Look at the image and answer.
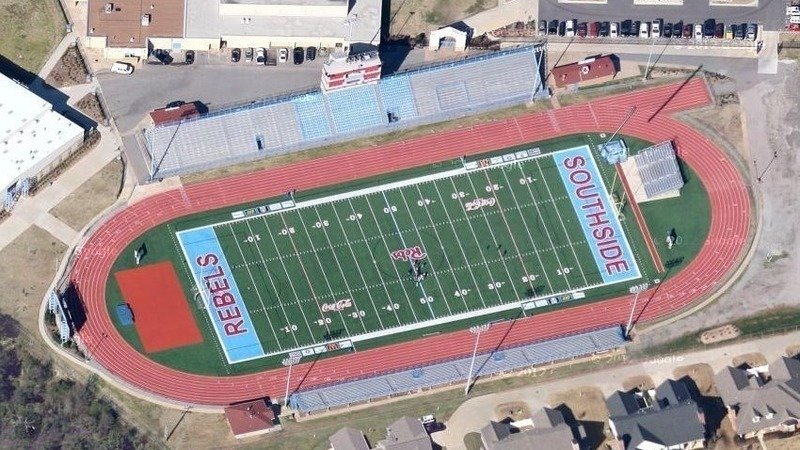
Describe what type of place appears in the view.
sports ground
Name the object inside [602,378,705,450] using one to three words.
house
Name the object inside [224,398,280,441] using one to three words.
building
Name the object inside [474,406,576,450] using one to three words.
house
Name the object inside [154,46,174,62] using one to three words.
vehicle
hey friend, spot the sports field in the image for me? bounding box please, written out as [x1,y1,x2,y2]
[103,131,713,377]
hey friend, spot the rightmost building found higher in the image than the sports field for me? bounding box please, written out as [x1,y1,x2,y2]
[550,56,620,94]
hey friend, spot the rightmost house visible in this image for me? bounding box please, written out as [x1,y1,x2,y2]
[712,355,800,441]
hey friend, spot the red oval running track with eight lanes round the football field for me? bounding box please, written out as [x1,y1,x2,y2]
[62,78,754,405]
